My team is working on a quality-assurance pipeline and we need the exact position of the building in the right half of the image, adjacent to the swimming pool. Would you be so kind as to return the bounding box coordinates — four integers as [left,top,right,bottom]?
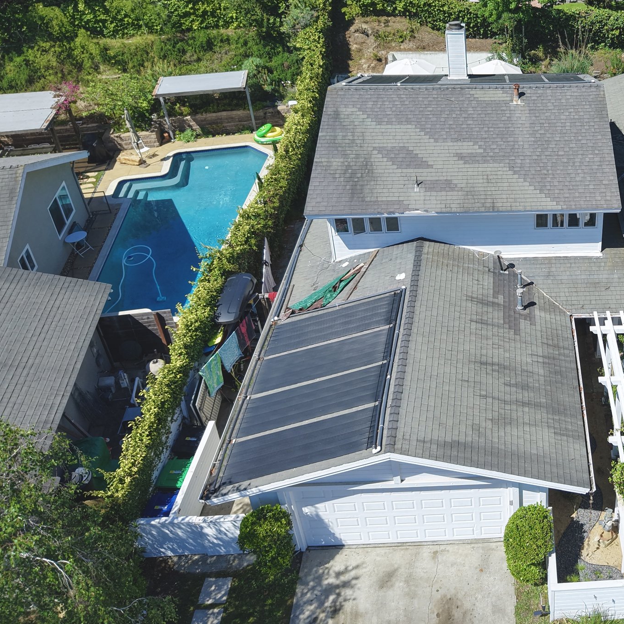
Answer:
[192,17,624,557]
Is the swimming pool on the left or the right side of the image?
left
